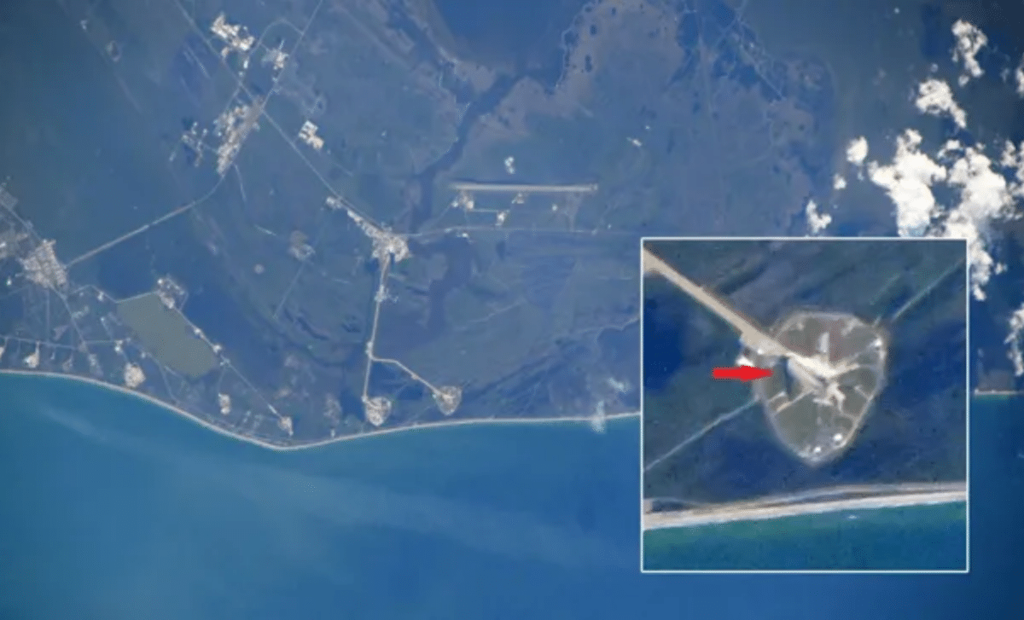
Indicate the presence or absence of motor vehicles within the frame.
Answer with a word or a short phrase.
No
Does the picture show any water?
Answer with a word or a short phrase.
Yes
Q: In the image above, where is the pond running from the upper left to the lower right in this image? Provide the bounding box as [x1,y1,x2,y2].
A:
[114,290,219,379]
